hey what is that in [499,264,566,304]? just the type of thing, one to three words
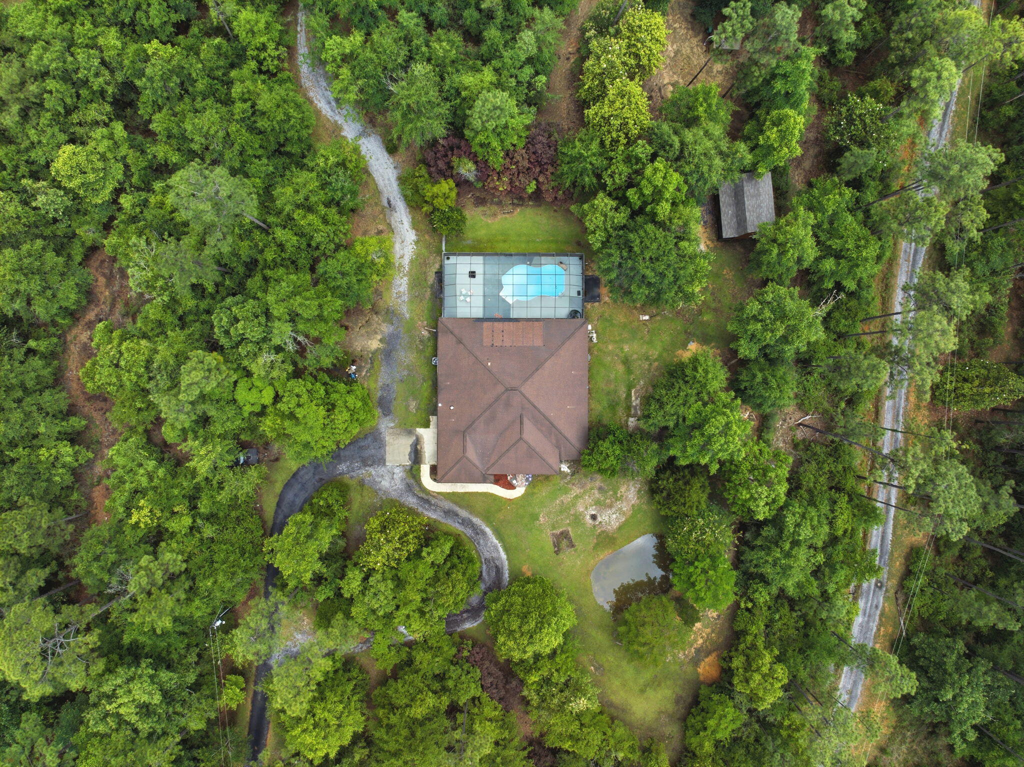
swimming pool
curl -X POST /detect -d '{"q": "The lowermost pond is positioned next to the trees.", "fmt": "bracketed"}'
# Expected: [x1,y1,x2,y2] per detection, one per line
[589,532,678,614]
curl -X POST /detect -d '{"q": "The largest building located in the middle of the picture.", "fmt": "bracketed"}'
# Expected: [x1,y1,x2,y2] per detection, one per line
[437,318,589,484]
